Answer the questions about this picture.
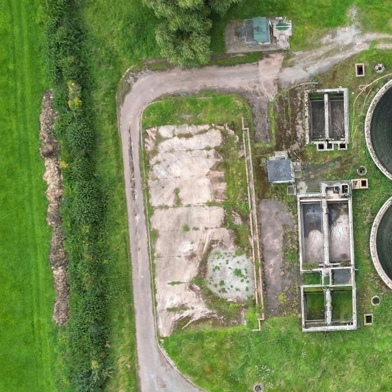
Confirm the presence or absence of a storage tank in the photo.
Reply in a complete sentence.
Yes, a storage tank appears in the view.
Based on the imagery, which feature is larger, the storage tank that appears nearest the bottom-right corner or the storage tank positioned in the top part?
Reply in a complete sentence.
The storage tank positioned in the top part is smaller than the storage tank that appears nearest the bottom-right corner.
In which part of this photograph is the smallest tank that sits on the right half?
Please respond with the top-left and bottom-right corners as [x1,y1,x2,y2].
[305,85,349,151]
